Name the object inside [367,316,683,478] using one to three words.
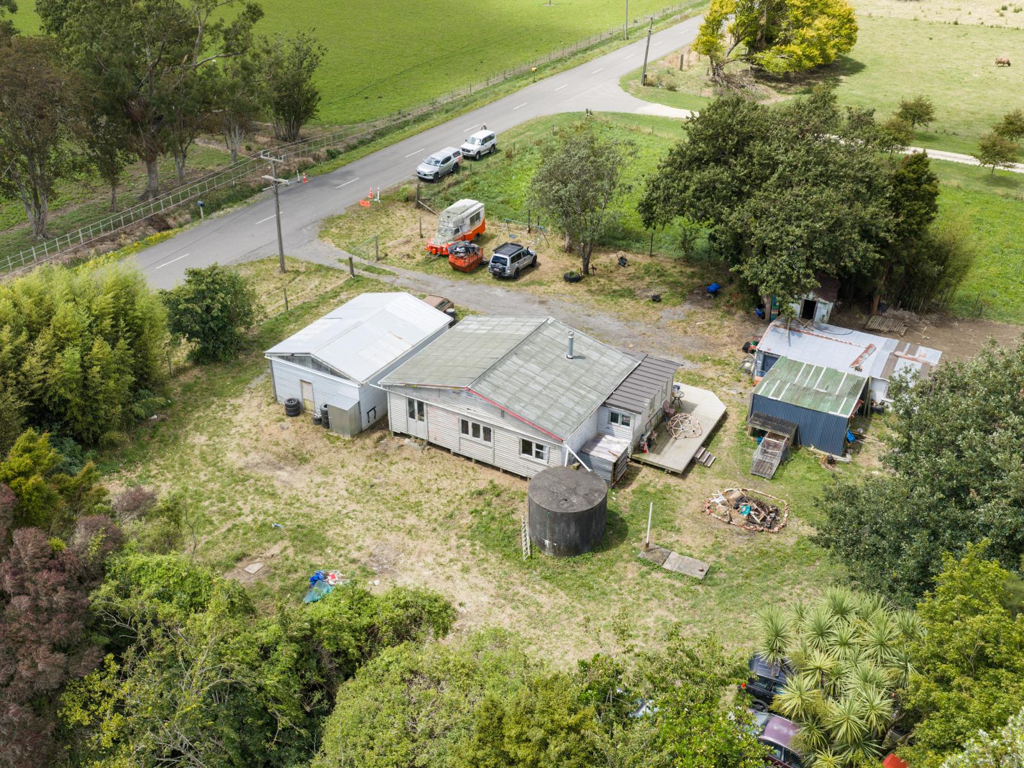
house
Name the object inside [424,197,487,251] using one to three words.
truck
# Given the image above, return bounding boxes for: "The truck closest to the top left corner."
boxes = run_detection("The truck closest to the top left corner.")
[412,146,464,180]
